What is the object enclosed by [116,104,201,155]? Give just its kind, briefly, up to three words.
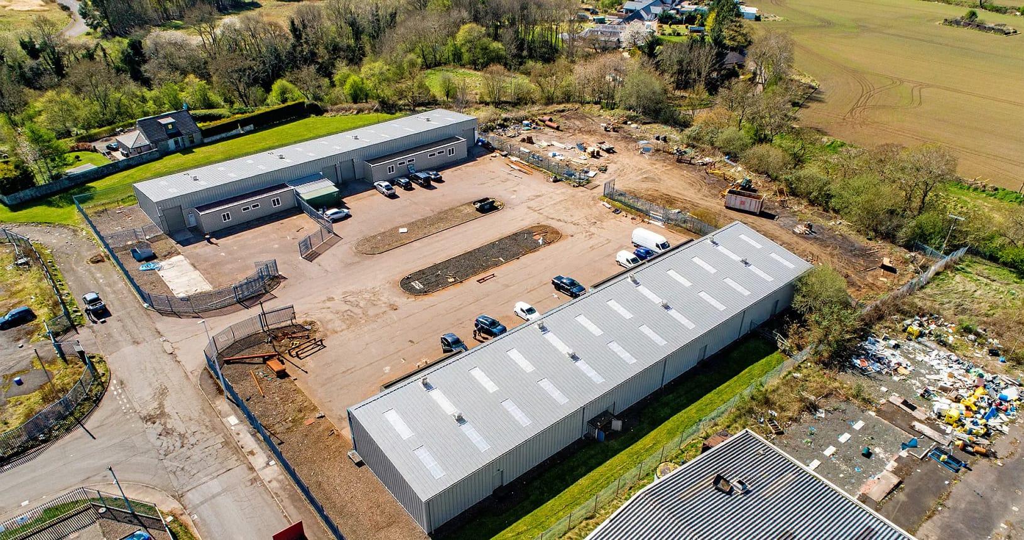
house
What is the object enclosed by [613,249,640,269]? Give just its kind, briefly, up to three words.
vehicle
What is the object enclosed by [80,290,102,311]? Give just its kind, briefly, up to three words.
truck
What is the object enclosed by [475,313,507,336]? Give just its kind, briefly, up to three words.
car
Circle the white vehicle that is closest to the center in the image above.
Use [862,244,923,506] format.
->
[512,303,540,320]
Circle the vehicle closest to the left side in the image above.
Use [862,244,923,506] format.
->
[0,305,35,328]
